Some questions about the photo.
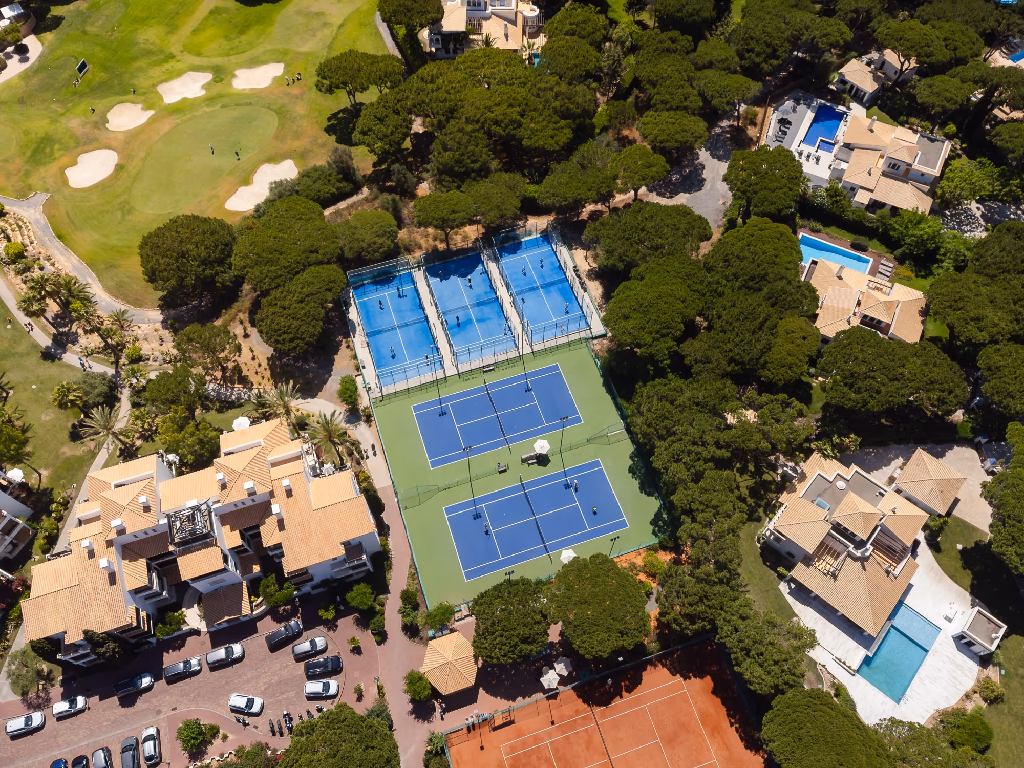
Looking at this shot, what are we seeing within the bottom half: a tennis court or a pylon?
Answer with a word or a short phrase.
tennis court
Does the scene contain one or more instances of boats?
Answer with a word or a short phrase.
No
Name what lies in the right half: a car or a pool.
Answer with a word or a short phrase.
pool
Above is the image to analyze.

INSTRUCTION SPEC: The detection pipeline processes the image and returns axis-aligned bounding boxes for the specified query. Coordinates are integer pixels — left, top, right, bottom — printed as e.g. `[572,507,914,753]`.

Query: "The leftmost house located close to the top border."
[429,0,546,62]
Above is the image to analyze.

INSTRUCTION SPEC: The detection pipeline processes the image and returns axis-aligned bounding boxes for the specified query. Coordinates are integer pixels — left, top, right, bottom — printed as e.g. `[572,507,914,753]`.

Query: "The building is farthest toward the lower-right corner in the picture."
[949,606,1007,657]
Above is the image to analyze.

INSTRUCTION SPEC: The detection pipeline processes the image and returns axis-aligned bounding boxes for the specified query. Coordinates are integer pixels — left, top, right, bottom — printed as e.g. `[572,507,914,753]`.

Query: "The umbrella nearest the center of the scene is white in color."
[533,440,550,456]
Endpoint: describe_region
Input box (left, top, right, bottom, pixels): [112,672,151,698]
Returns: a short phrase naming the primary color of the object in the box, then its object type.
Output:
black car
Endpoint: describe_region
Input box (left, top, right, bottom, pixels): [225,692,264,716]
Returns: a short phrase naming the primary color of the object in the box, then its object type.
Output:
white car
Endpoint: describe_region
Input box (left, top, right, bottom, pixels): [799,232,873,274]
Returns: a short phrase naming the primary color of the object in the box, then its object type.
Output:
blue swimming pool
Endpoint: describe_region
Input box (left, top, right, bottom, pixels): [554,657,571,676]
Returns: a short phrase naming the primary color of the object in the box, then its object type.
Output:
white umbrella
